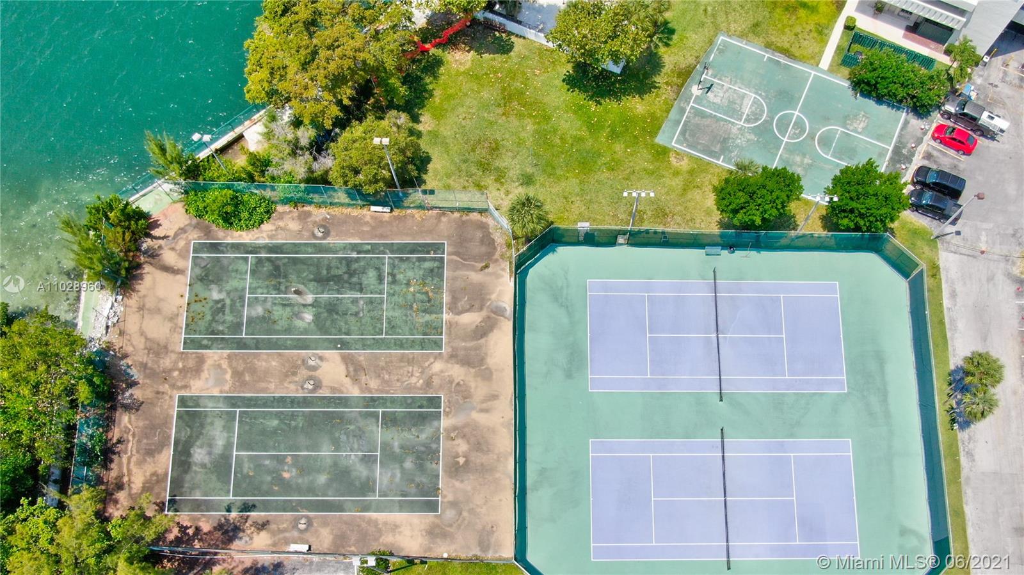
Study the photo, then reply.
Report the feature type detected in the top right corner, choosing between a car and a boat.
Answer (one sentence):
It is a car that can be seen in the top right corner.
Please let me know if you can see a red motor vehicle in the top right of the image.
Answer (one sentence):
Yes, I can see a red motor vehicle in the top right of the image.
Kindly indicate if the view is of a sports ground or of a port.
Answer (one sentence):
It's a sports ground.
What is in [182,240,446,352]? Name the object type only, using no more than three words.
tennis court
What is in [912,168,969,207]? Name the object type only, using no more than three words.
car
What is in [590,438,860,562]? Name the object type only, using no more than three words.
tennis court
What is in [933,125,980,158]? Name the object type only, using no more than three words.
car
